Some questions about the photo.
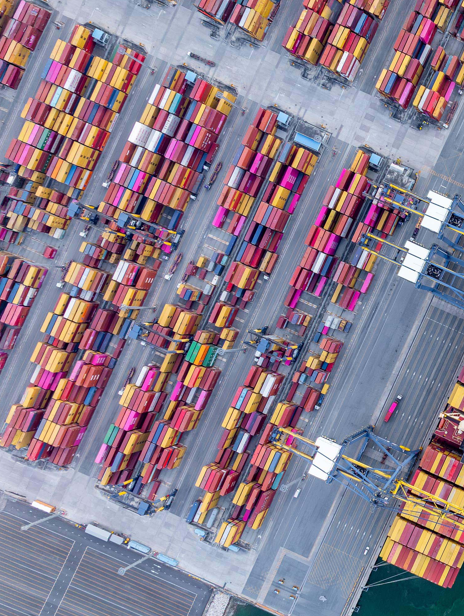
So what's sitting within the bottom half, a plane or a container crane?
container crane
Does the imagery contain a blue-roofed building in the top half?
Yes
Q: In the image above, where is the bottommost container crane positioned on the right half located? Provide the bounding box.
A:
[266,422,464,531]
